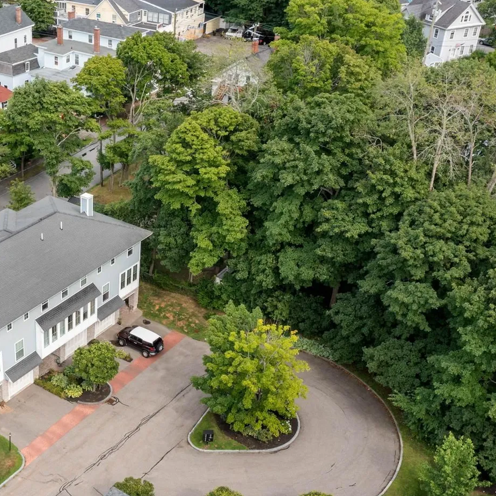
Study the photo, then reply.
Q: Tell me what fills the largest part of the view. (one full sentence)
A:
The bulk of the photo consists of trees.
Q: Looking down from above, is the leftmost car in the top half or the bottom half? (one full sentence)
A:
You can find the leftmost car in the bottom half.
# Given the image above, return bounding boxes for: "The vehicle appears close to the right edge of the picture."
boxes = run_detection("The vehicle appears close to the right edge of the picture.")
[476,38,496,50]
